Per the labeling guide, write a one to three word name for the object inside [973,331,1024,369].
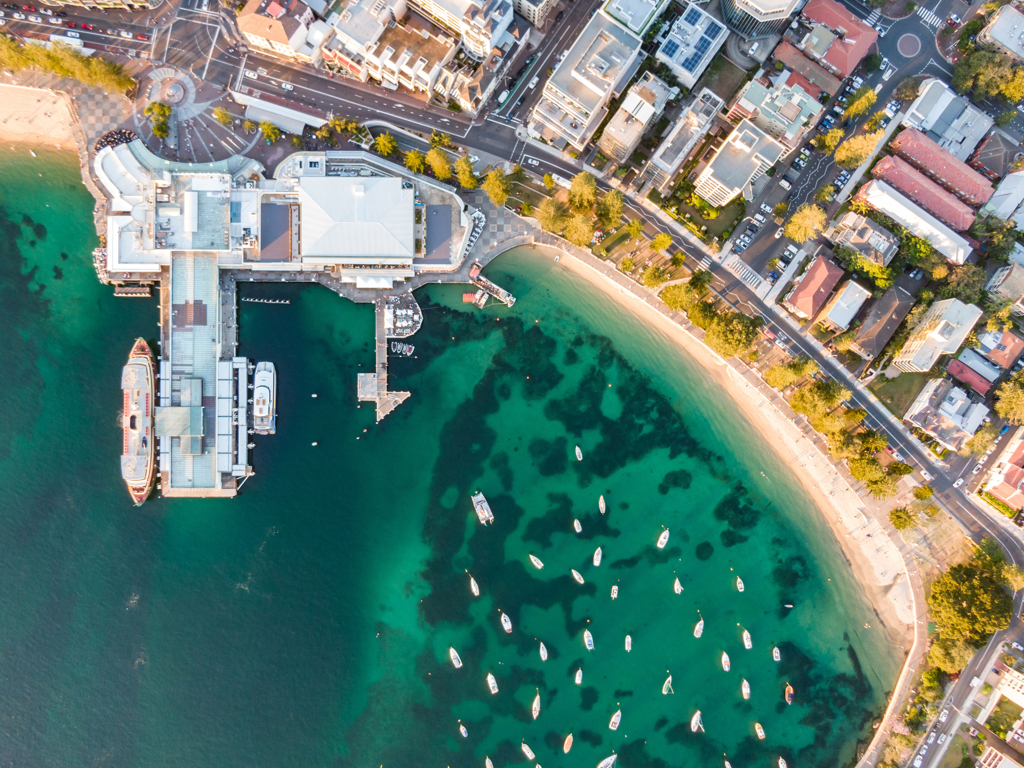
house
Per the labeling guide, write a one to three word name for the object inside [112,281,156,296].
pier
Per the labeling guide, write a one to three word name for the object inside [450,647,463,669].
boat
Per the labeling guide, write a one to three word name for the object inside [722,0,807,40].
building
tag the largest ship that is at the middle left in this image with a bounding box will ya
[120,337,159,507]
